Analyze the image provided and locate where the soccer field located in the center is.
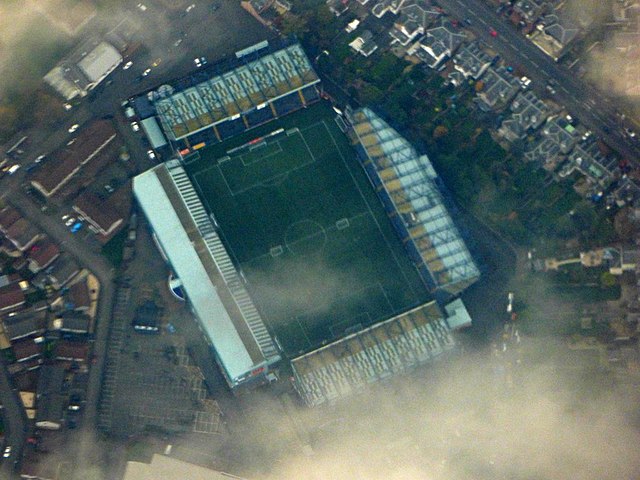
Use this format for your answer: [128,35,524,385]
[182,103,430,372]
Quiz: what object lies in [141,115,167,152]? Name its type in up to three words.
building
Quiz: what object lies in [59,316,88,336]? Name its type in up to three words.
house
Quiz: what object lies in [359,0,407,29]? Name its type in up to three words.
house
